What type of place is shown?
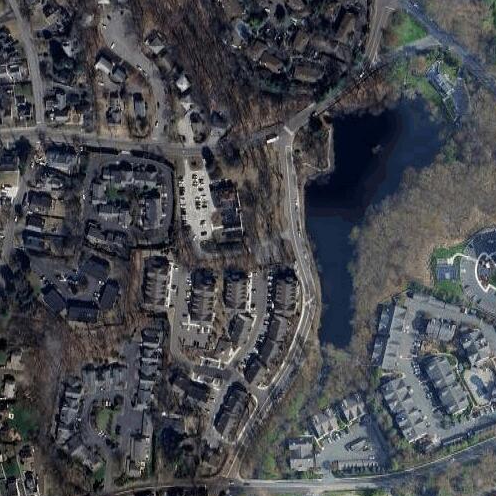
residential area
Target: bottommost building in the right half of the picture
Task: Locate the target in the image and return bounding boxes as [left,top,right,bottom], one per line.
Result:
[289,440,314,471]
